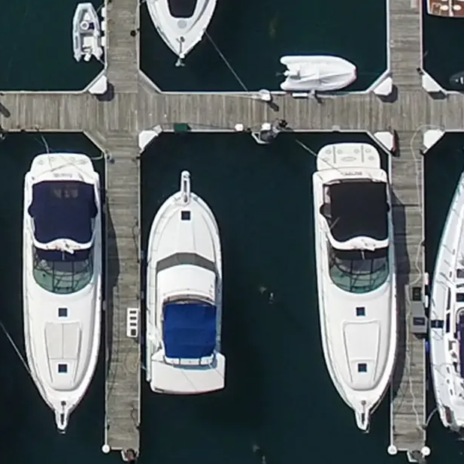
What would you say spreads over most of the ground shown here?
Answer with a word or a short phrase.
water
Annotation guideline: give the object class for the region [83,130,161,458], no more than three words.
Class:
pier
